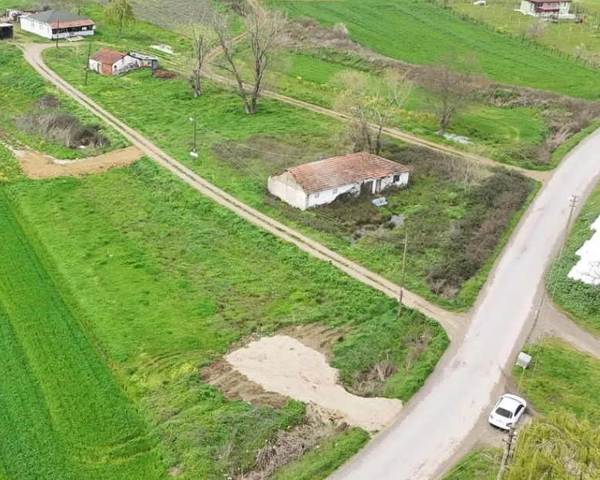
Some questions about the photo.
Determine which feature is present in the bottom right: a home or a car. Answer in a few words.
car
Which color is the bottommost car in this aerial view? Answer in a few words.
white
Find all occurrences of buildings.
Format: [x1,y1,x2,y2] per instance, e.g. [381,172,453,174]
[0,22,16,39]
[35,7,102,39]
[269,145,417,209]
[520,0,577,18]
[84,44,143,75]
